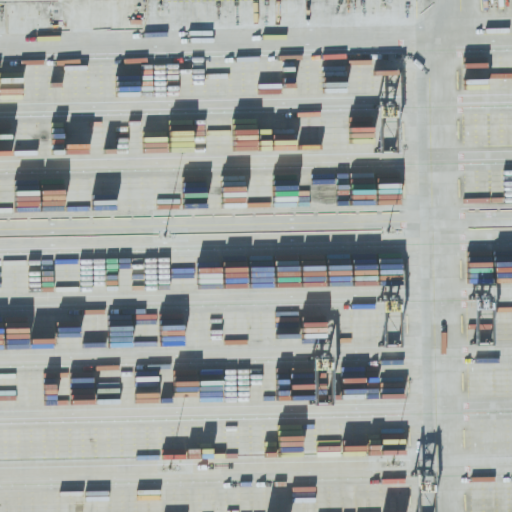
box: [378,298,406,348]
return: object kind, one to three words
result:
container crane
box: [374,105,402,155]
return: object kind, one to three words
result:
container crane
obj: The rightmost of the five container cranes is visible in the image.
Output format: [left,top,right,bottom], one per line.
[470,296,496,346]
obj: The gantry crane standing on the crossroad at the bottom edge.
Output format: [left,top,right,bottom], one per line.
[412,468,438,512]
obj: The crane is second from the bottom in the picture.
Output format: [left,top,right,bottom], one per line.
[309,357,336,406]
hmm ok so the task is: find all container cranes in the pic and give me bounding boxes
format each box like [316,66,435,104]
[374,105,402,155]
[470,296,496,346]
[309,357,336,406]
[412,468,438,512]
[378,298,406,348]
